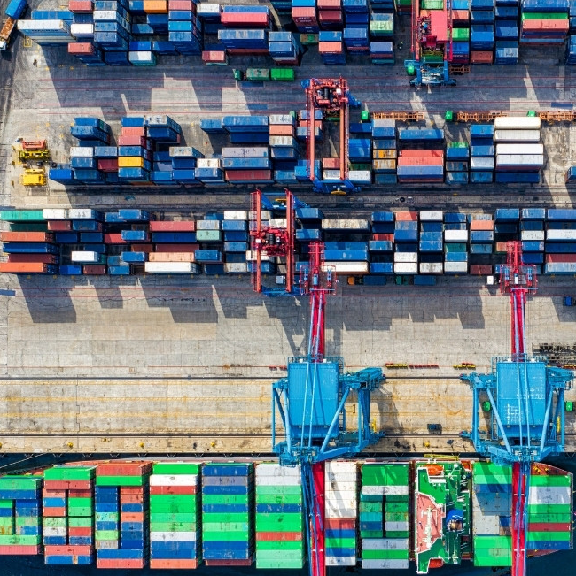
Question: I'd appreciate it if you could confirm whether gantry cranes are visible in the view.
Yes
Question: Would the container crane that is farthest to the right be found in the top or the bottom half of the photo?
bottom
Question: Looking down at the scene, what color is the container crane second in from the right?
red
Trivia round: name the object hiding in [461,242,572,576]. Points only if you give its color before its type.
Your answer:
blue container crane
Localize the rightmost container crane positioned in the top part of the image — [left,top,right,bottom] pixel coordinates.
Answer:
[409,0,460,88]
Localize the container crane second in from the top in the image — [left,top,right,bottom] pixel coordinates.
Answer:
[304,77,366,194]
